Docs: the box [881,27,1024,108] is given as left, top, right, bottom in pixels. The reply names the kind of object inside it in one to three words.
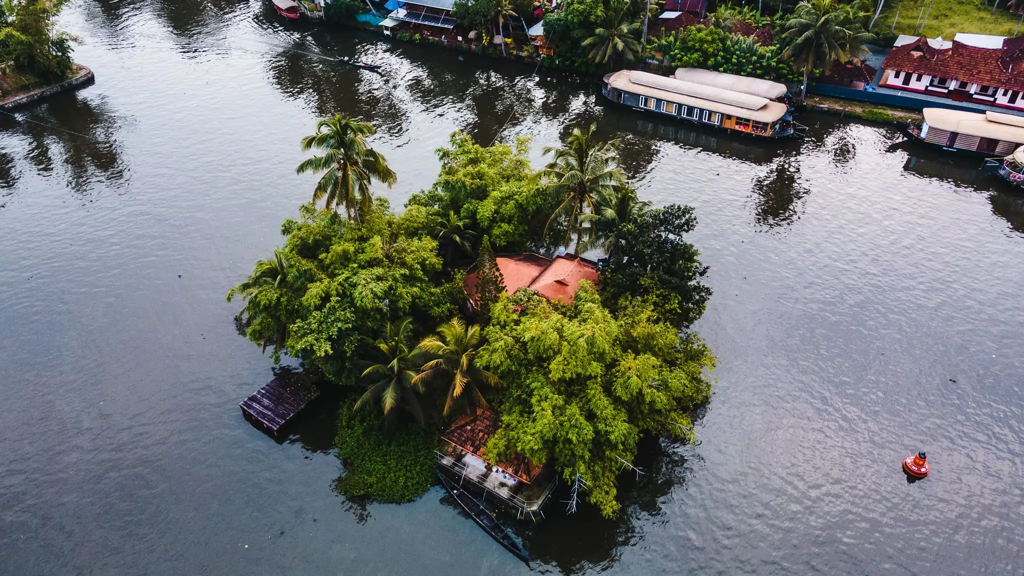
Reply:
house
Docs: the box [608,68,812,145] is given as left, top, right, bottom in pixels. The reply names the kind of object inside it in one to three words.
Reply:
boat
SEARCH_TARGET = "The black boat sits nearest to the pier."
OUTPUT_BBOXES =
[438,460,529,564]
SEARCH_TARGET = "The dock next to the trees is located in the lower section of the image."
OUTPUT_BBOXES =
[241,372,327,435]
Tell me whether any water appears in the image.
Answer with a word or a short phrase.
Yes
